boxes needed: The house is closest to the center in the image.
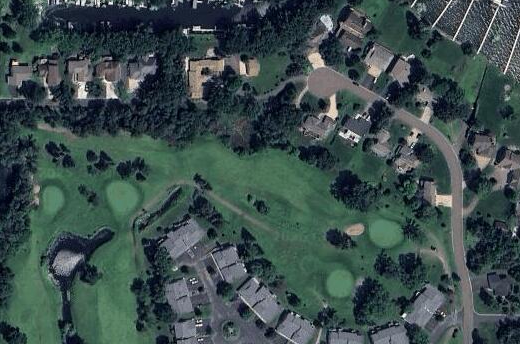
[300,111,336,139]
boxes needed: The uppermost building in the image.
[339,6,371,49]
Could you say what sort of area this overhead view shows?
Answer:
golf course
